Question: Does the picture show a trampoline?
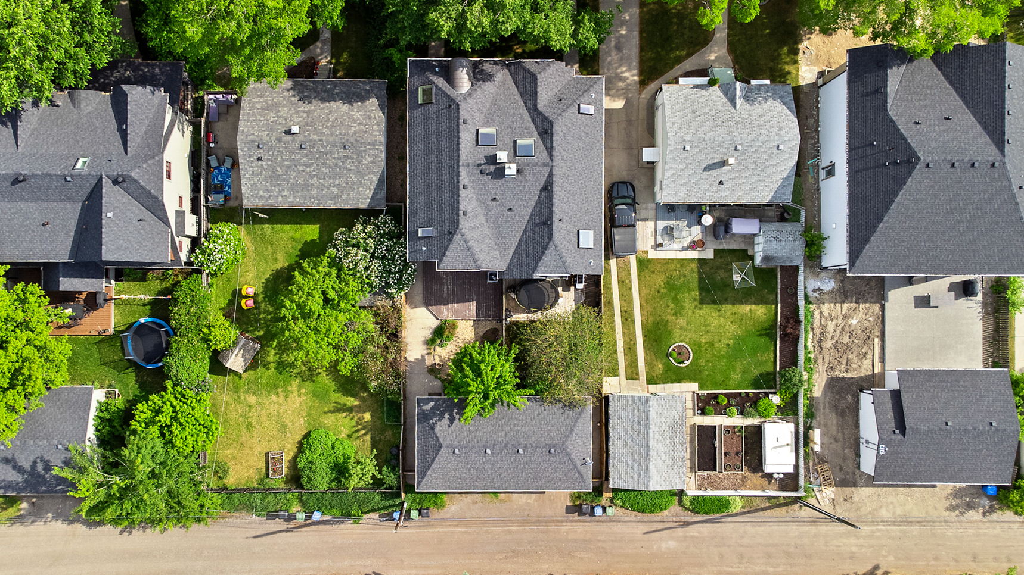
Yes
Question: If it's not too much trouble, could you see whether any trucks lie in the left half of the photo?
No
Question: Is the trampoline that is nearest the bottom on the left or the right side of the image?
left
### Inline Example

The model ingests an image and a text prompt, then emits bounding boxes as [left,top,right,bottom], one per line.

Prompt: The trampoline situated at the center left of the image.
[116,317,171,368]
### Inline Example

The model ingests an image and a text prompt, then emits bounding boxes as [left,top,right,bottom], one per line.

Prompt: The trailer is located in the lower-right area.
[759,421,794,485]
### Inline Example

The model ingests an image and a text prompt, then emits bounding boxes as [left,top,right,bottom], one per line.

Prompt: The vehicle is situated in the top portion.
[607,181,640,258]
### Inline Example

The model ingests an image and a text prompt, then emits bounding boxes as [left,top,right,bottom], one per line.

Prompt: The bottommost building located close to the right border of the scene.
[860,368,1020,486]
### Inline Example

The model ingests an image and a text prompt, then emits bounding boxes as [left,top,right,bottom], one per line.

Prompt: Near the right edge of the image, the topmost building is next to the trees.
[817,37,1024,276]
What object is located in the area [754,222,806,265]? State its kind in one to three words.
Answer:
shed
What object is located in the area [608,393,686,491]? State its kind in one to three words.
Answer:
building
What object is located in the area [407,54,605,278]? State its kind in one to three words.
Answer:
house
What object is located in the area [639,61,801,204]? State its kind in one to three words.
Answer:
house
